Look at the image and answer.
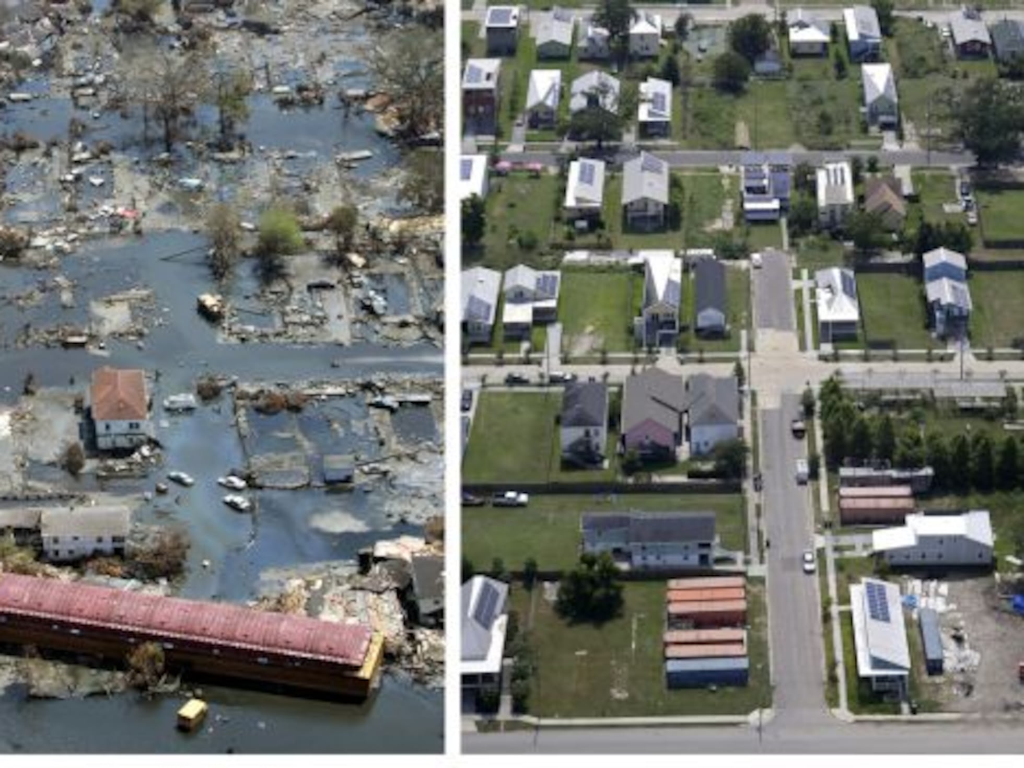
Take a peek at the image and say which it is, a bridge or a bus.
bus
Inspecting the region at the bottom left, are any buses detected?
Yes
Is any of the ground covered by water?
Yes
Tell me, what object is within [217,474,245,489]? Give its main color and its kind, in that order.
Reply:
white car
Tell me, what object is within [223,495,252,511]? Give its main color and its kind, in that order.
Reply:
white car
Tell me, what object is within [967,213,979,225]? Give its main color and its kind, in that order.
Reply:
gray vehicle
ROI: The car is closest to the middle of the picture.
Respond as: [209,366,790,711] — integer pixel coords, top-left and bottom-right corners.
[505,374,530,386]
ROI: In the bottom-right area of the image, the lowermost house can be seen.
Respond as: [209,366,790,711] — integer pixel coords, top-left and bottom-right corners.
[846,576,909,715]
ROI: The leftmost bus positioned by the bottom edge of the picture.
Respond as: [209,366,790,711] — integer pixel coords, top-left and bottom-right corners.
[178,700,211,732]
